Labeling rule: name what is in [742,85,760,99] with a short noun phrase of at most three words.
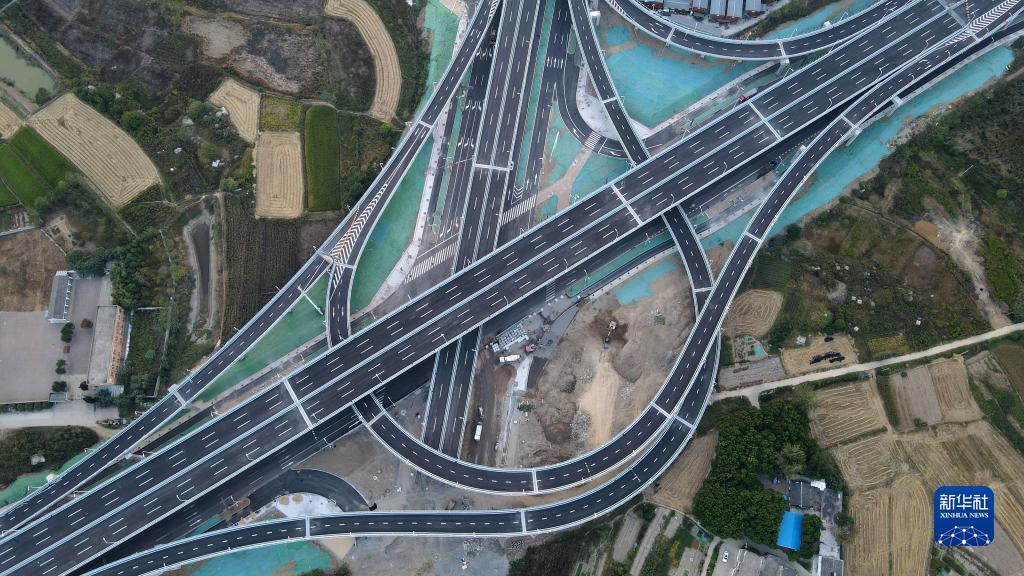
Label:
vehicle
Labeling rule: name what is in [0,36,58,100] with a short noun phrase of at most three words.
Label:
pond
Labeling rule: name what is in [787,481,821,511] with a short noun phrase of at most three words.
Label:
house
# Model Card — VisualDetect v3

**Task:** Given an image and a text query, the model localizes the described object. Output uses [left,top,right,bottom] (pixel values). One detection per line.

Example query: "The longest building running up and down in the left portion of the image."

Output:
[88,305,125,386]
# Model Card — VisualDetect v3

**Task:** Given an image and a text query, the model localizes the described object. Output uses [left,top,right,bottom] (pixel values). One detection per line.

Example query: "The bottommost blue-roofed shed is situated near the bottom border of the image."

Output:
[774,512,803,551]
